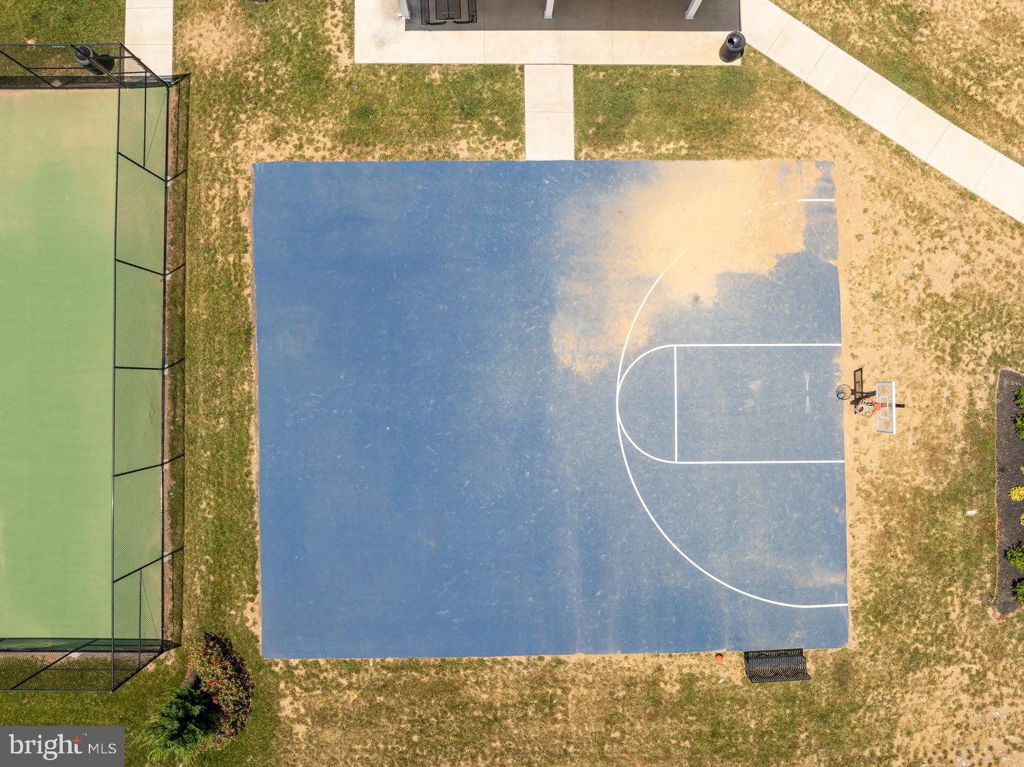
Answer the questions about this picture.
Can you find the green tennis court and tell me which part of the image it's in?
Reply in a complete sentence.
You can find the green tennis court in the left area of the picture.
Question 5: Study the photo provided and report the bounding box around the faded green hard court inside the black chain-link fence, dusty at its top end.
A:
[0,88,167,648]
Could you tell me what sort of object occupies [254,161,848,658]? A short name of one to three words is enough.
basketball court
